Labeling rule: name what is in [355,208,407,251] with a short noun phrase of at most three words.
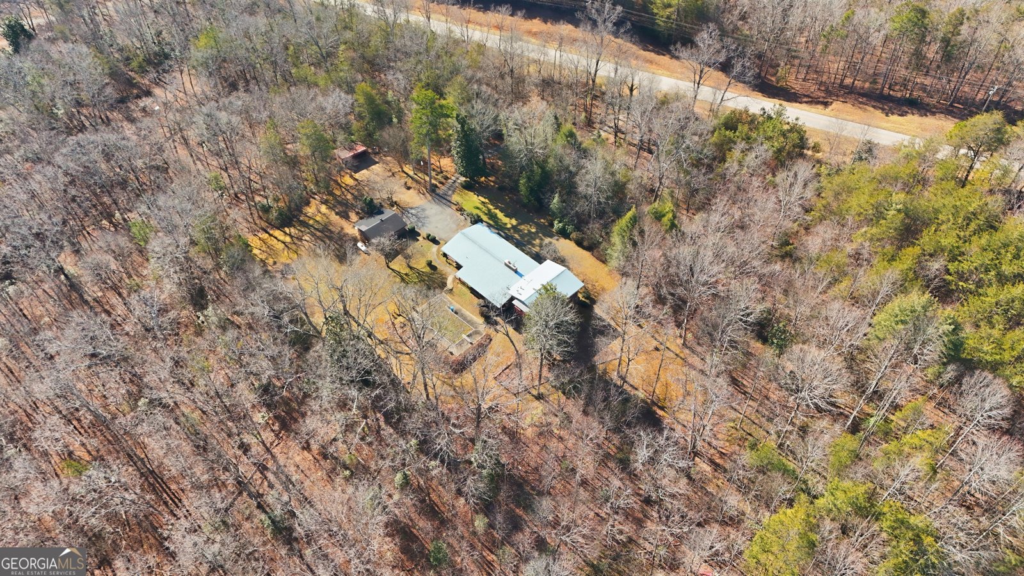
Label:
building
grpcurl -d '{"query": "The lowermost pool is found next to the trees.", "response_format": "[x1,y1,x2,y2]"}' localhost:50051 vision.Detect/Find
[411,292,486,355]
